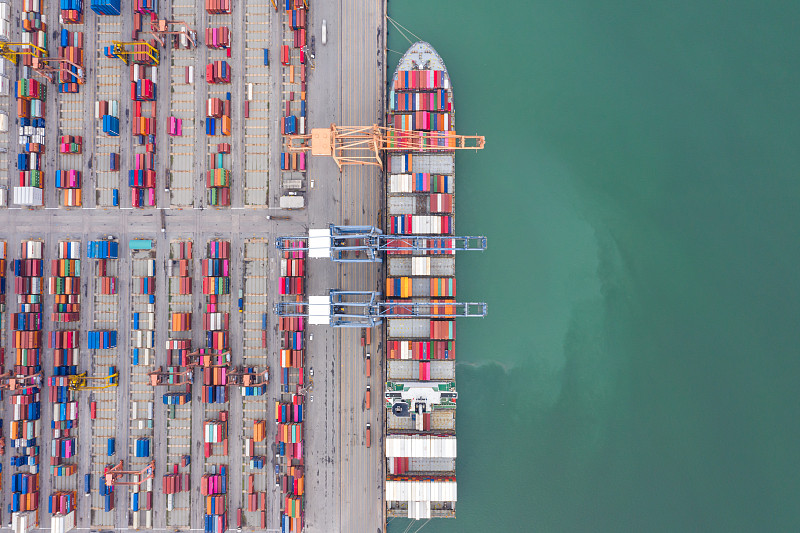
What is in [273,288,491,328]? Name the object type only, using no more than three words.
container crane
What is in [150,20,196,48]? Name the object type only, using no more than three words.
container crane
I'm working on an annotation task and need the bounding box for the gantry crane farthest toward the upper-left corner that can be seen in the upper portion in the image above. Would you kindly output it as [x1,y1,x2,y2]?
[0,40,48,65]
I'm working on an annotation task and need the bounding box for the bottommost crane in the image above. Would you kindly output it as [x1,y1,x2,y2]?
[106,462,154,487]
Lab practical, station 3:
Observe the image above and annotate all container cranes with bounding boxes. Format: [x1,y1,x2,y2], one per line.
[0,372,43,393]
[150,20,196,48]
[273,224,491,264]
[227,368,270,388]
[112,40,159,65]
[0,40,48,65]
[273,288,491,328]
[69,371,119,392]
[188,349,231,369]
[148,368,194,388]
[32,57,84,82]
[274,126,489,175]
[106,462,154,487]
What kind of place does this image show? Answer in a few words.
port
